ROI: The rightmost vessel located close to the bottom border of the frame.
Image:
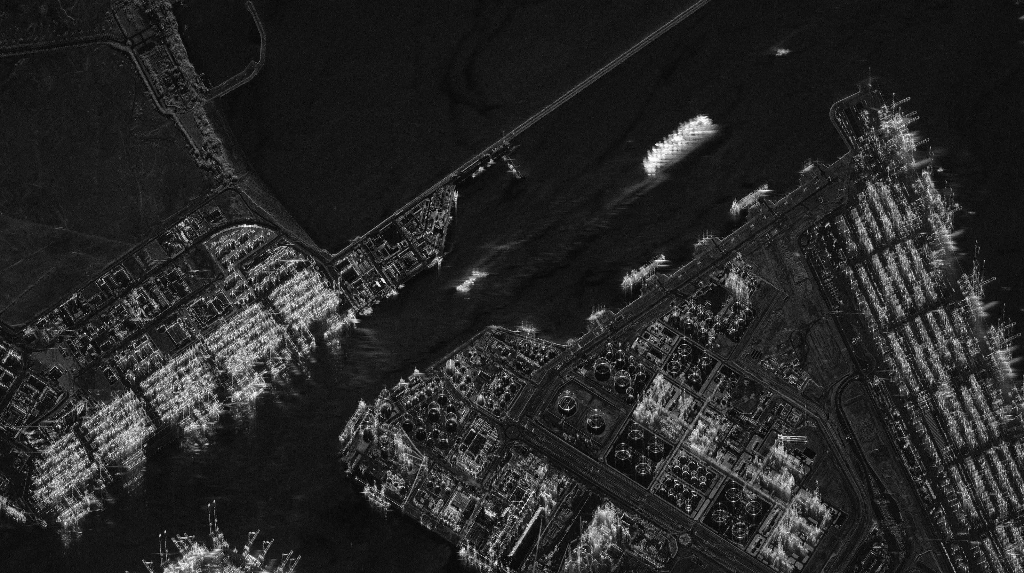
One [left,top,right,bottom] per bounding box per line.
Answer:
[462,549,494,573]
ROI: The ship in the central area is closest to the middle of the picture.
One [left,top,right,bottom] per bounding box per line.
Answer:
[459,273,486,292]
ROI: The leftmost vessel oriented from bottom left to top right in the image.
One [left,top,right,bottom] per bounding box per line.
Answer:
[54,500,102,534]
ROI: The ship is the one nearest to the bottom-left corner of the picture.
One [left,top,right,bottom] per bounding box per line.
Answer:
[0,502,26,524]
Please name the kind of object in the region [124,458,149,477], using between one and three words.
ship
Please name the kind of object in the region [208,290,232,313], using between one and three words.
building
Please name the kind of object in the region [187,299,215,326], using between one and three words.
building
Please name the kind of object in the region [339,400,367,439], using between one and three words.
ship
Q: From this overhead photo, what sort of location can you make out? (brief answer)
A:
port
